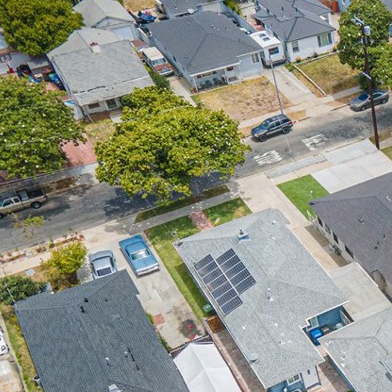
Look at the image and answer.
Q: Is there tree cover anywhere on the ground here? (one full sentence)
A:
Yes, there is tree cover in the image.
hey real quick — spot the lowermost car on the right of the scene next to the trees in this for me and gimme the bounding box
[247,112,295,142]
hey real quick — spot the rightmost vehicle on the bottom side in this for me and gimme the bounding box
[120,232,160,275]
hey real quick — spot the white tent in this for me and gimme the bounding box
[173,344,241,392]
